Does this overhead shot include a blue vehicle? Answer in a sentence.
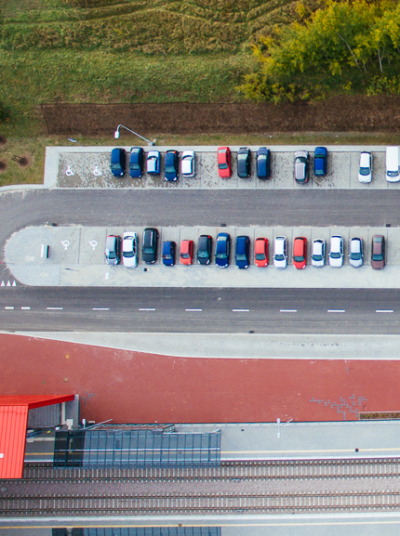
Yes, the frame does contain a blue vehicle.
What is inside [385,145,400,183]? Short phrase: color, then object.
white vehicle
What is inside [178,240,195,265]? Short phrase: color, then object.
red car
